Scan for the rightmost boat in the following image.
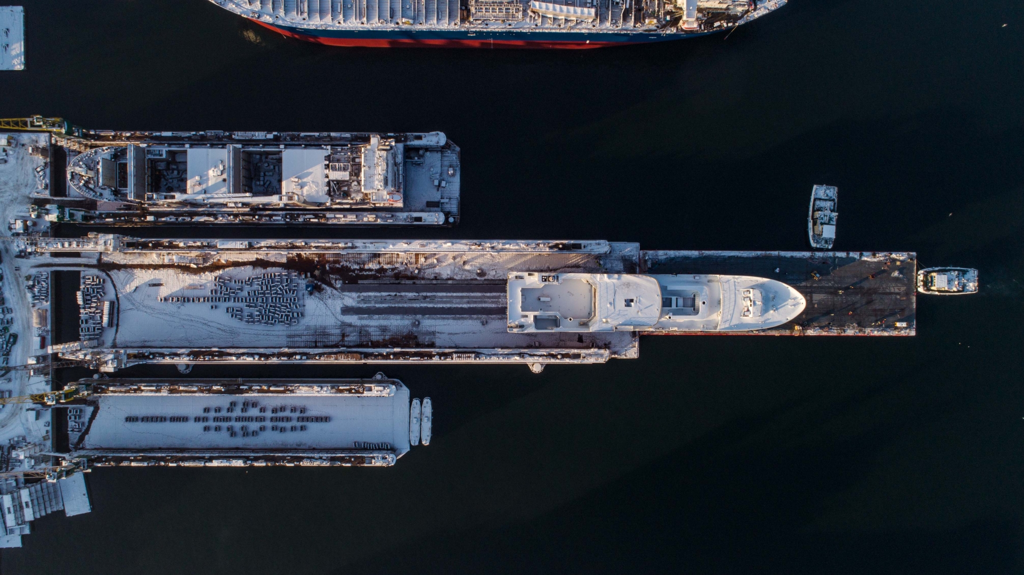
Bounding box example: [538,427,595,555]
[916,266,978,295]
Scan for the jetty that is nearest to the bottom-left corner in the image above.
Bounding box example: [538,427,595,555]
[0,477,64,547]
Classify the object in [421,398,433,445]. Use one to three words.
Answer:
boat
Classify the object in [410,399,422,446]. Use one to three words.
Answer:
boat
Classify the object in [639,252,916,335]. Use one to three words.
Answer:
ship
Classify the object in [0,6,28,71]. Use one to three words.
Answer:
ship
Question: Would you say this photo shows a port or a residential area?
port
